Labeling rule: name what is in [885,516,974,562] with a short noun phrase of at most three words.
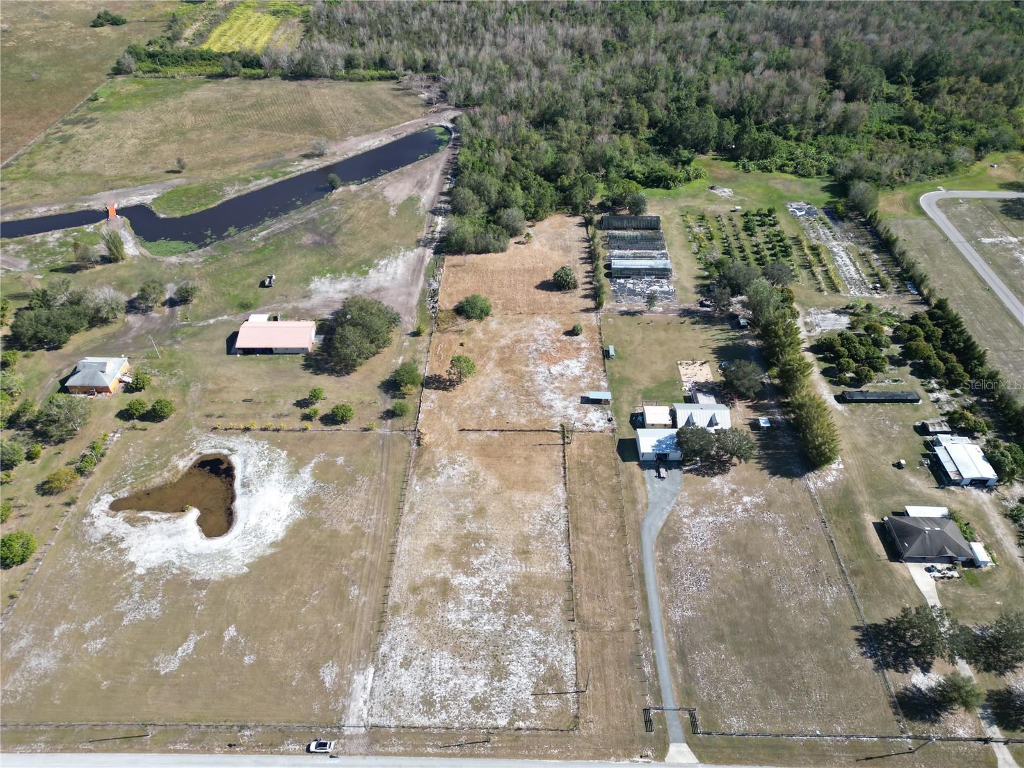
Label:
house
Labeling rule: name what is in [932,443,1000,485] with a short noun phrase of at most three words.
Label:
building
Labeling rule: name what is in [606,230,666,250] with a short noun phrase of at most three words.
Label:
greenhouse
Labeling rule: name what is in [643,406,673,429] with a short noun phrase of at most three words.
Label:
shed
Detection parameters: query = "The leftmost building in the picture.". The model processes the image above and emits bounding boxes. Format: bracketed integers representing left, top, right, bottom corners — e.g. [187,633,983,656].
[64,357,129,396]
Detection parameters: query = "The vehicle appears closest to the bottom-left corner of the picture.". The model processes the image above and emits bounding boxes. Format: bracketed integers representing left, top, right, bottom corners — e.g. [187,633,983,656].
[309,740,335,755]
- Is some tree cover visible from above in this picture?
Yes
